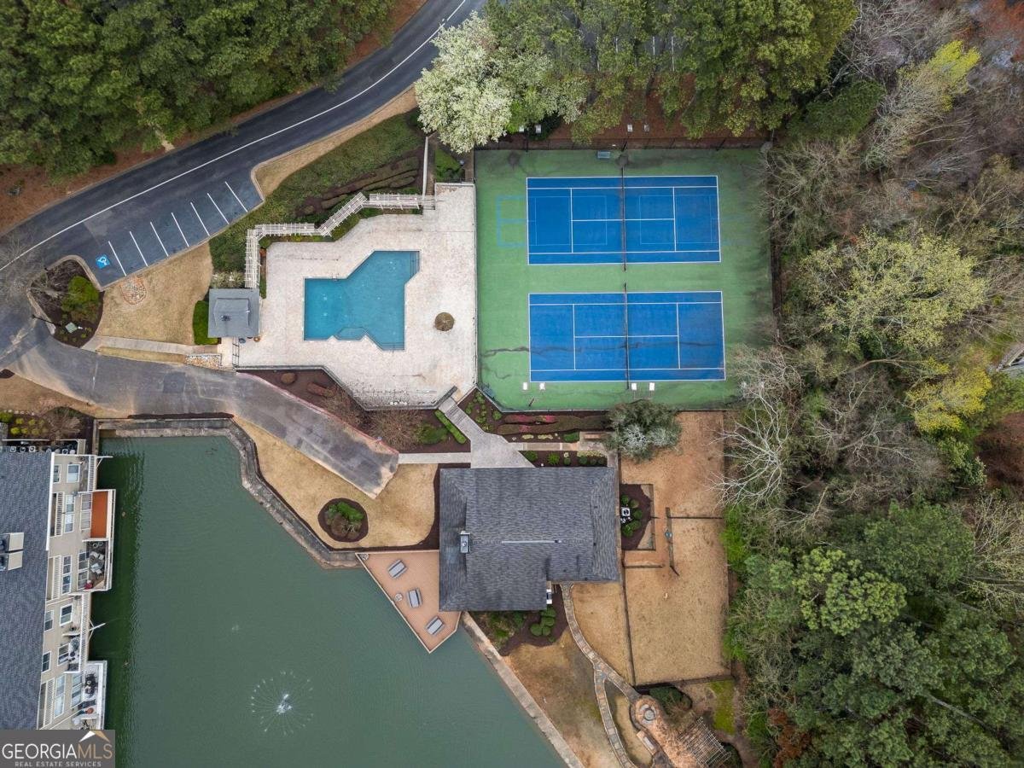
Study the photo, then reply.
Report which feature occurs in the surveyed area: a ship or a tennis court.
tennis court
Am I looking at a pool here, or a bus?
pool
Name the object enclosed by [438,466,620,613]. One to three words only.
building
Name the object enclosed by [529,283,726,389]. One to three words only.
tennis court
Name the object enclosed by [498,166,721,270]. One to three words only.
tennis court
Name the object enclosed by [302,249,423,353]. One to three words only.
swimming pool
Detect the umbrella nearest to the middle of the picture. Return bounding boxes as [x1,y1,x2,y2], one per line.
[434,311,456,333]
